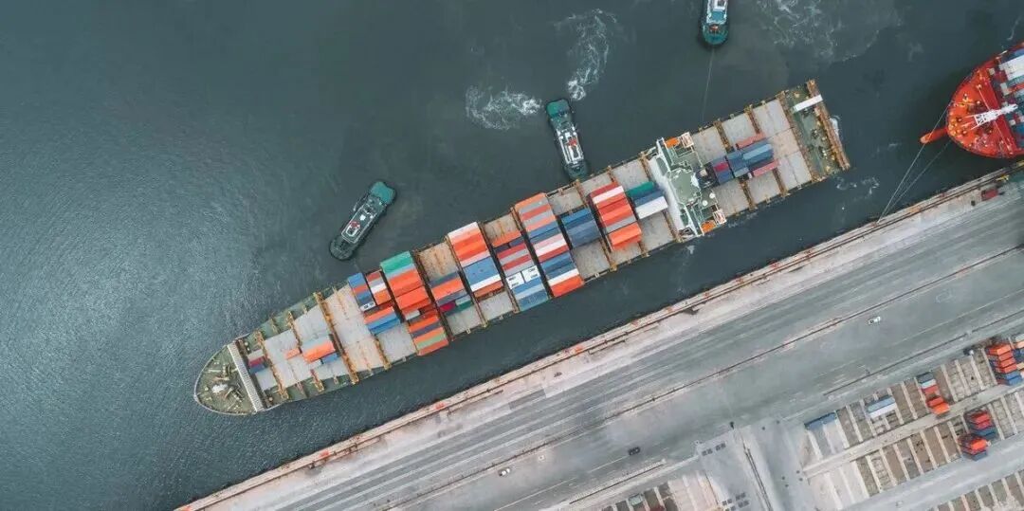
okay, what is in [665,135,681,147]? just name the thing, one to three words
boat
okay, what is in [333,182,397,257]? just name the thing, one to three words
boat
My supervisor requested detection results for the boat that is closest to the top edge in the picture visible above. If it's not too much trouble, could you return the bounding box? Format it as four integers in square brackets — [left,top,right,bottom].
[700,0,732,44]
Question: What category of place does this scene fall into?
port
